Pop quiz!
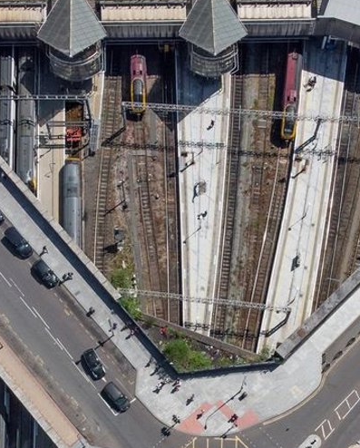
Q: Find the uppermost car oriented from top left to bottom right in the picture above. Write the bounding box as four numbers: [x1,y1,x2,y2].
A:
[3,227,32,257]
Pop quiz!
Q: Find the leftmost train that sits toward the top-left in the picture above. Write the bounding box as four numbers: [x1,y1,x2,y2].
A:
[0,40,17,172]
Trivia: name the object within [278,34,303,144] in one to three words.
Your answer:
train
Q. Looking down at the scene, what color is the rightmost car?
black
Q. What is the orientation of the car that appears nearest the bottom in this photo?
on a diagonal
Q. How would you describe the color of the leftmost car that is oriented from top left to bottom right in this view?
black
